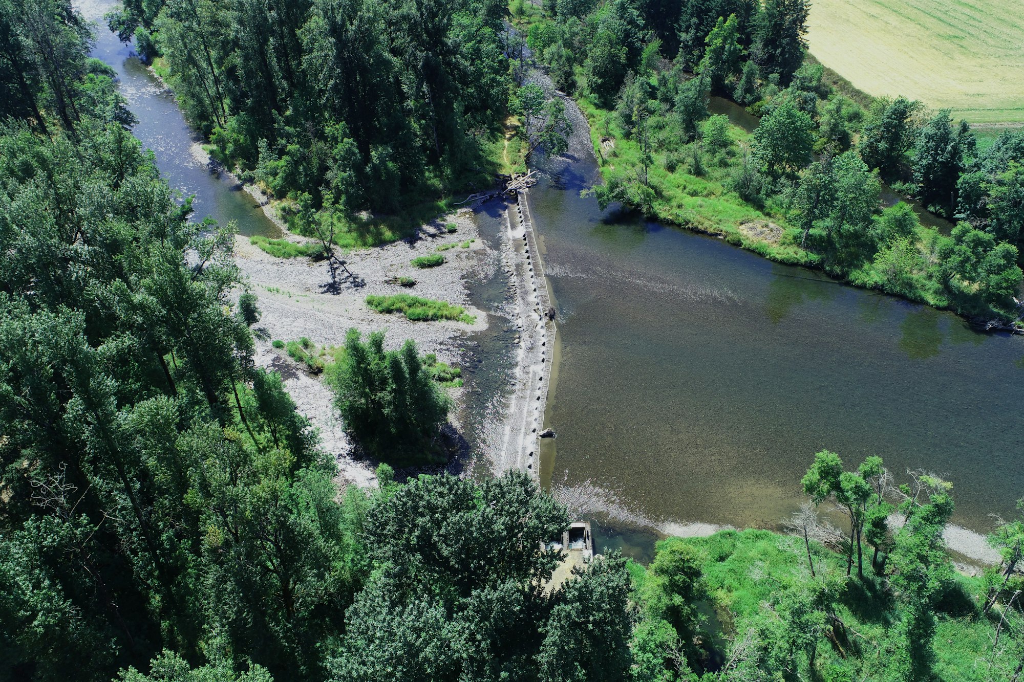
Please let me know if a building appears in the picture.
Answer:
No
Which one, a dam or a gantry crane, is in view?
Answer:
dam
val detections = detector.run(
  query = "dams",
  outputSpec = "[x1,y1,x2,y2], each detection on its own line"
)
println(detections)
[495,187,557,515]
